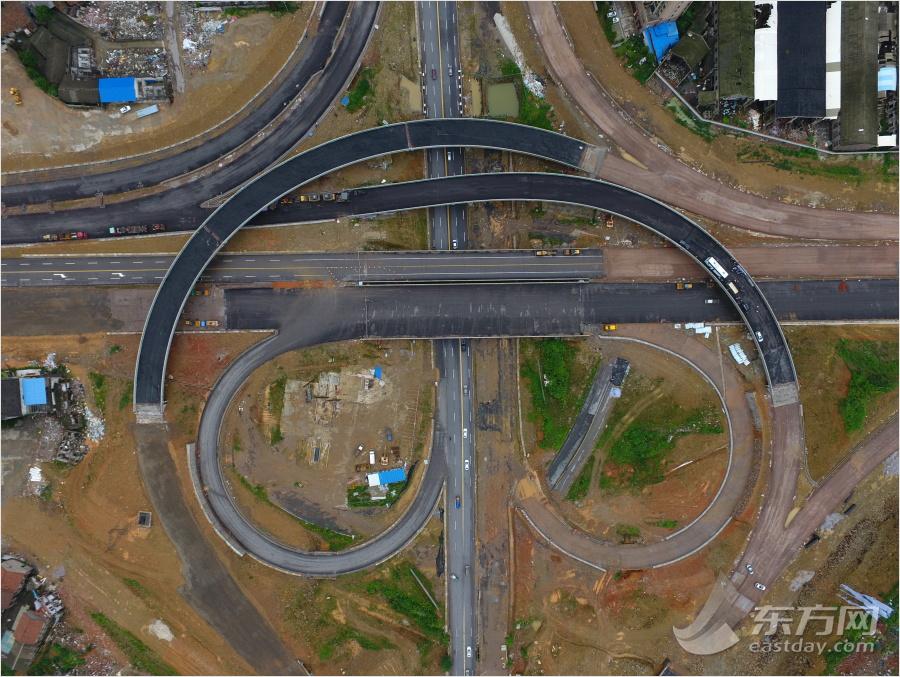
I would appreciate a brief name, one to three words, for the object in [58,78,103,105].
house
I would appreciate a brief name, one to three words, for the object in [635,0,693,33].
house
